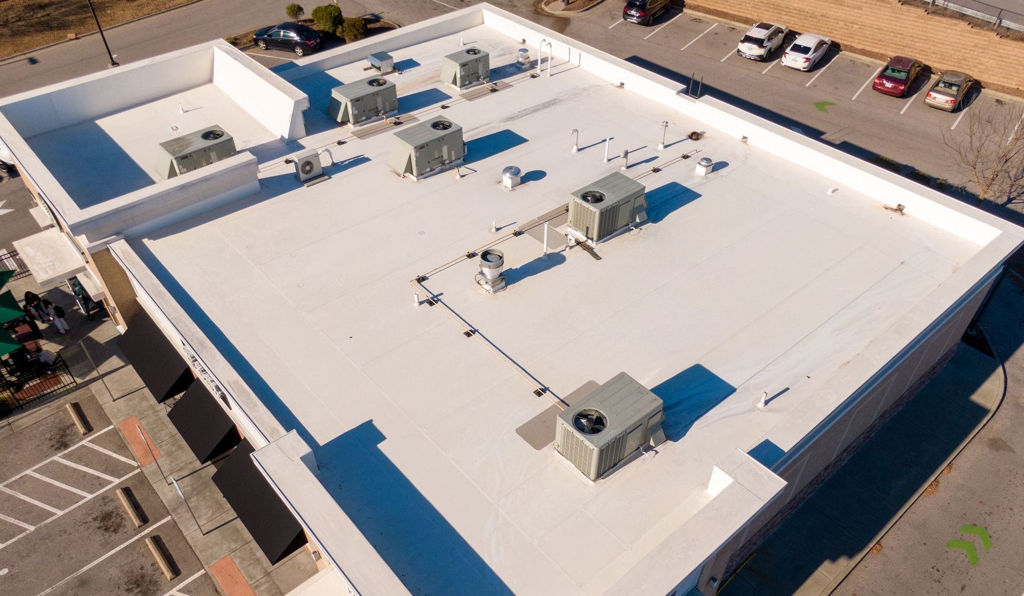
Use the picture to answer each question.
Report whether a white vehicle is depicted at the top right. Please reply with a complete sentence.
Yes, there is a white vehicle at the top right.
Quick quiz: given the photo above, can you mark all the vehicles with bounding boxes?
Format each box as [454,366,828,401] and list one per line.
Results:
[626,0,677,25]
[252,24,324,56]
[925,73,976,111]
[784,37,833,71]
[740,22,790,60]
[874,58,924,96]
